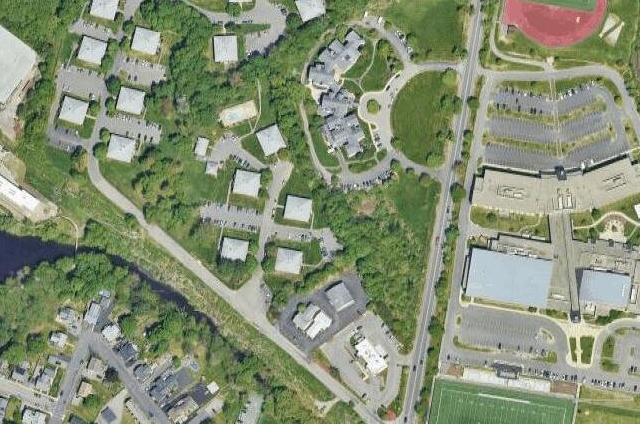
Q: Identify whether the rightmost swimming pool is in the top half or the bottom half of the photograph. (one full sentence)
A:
The rightmost swimming pool is in the top half of the image.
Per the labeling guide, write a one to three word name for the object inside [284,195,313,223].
building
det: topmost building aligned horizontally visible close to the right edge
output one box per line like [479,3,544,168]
[472,156,640,214]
